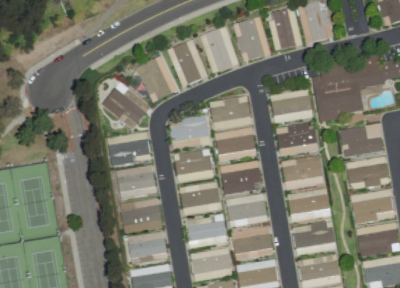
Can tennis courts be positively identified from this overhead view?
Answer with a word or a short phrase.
Yes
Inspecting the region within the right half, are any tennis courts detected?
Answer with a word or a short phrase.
No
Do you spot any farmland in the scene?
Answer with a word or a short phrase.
No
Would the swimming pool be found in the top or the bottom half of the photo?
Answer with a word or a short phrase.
top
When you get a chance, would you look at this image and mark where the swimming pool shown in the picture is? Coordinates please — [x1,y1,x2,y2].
[369,89,396,110]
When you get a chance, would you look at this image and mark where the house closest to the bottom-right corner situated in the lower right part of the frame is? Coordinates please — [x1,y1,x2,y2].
[361,258,400,288]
